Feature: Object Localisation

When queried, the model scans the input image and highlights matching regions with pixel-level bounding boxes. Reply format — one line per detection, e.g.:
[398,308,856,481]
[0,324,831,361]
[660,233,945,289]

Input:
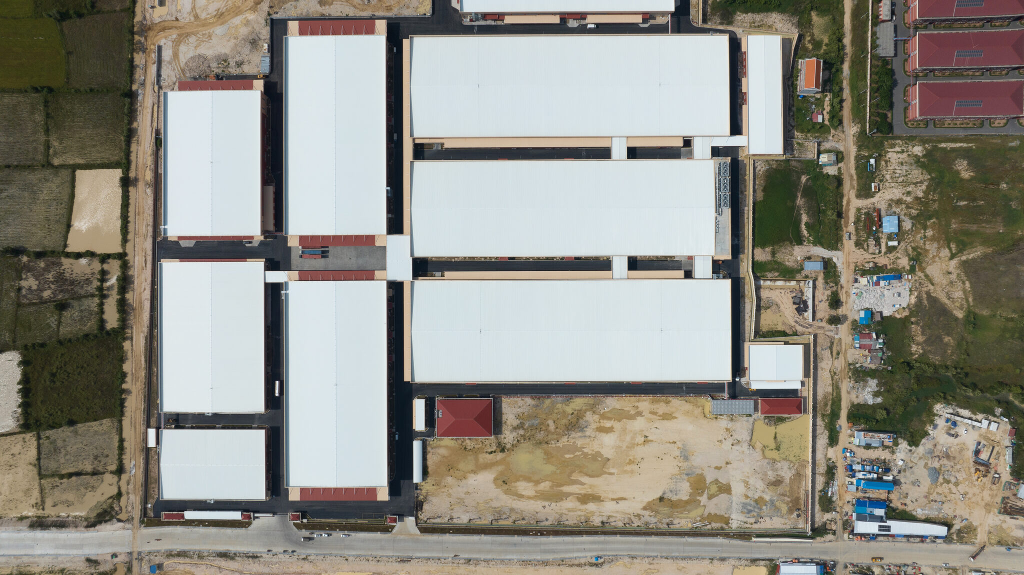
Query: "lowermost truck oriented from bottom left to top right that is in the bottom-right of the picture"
[969,539,991,562]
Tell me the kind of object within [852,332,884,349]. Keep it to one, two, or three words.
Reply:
house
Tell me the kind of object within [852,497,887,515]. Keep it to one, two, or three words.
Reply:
house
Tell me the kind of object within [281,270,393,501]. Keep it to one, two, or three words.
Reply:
building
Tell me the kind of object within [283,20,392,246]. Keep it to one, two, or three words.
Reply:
building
